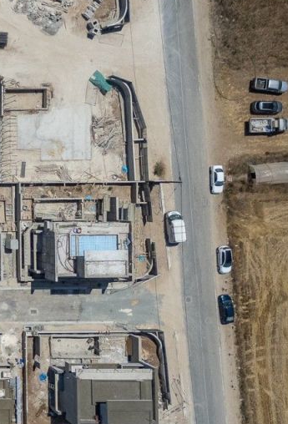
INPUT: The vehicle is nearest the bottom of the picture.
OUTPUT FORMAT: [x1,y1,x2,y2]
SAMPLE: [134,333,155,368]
[215,293,233,324]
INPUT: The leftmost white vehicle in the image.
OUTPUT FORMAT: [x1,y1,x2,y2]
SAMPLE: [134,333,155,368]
[165,211,187,244]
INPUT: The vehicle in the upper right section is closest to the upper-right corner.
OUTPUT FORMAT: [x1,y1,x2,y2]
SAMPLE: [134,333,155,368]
[248,78,286,94]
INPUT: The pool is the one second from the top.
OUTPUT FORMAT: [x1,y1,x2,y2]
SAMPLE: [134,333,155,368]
[29,197,81,220]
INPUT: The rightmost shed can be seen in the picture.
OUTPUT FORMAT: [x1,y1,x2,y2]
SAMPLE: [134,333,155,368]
[248,162,288,186]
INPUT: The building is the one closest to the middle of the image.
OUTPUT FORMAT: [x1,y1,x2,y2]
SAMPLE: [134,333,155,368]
[38,220,130,281]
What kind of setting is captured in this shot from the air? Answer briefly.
residential area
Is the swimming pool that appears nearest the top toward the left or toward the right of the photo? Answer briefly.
left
